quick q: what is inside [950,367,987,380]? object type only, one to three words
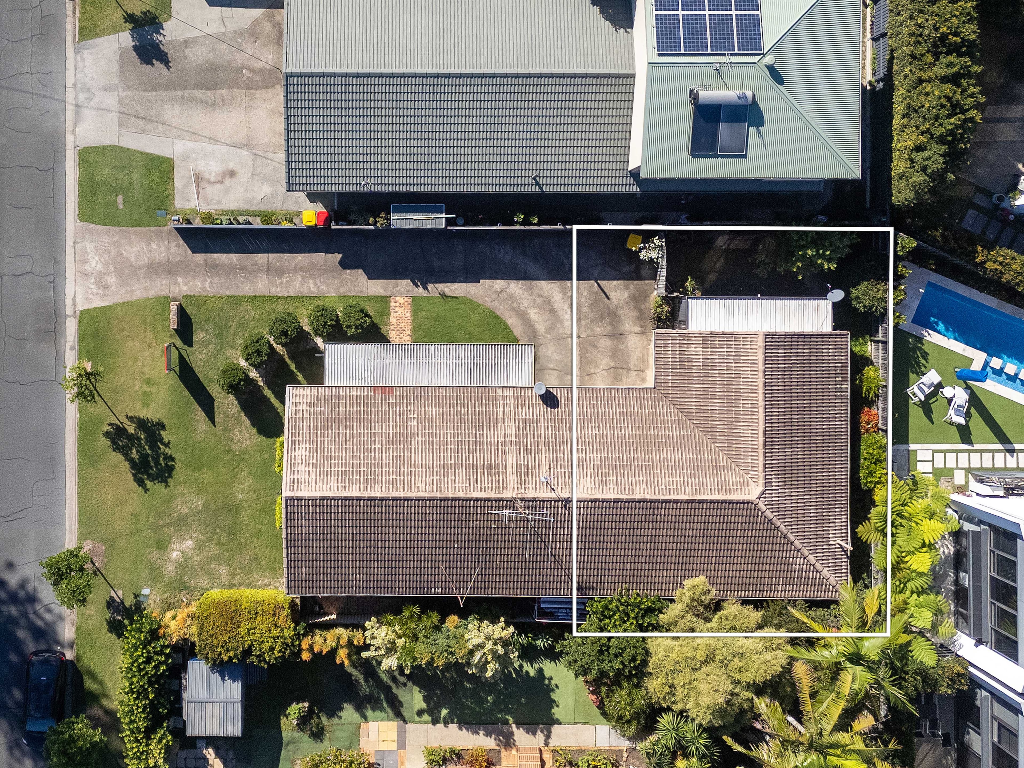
umbrella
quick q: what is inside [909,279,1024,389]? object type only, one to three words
swimming pool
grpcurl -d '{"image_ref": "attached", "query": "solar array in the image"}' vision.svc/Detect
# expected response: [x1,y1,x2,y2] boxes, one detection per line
[655,0,763,53]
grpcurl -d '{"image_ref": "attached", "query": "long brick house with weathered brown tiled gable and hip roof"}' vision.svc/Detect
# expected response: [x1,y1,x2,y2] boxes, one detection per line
[280,327,854,601]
